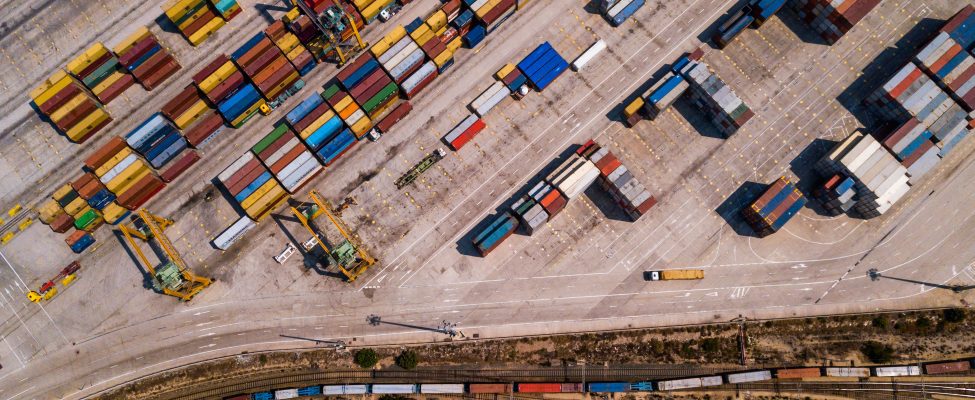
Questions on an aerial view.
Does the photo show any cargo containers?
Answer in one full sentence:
Yes, you can see a cargo container in this photo.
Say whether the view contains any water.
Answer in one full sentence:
No, there is no water in the image.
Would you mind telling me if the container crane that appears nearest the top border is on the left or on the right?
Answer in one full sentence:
You can find the container crane that appears nearest the top border on the left side of the picture.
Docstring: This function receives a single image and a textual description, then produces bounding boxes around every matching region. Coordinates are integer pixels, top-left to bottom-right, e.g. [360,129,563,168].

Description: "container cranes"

[290,0,368,67]
[290,190,382,286]
[115,207,219,302]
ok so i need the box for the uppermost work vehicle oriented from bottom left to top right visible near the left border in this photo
[33,259,81,293]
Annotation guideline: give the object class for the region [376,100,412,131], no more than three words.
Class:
shipping container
